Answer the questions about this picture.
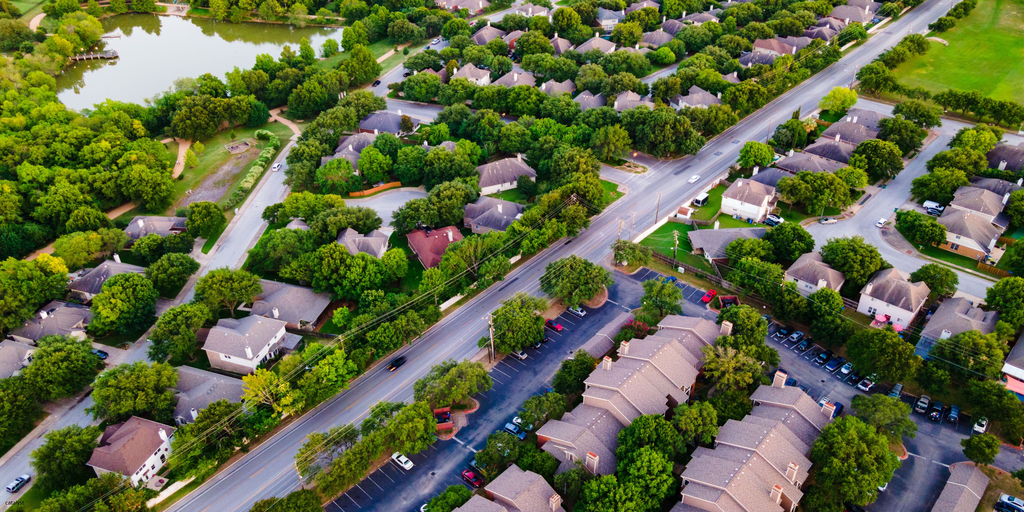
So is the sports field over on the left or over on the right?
right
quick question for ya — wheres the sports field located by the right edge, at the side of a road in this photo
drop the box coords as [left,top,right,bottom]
[863,0,1024,113]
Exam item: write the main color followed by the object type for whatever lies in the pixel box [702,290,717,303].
red vehicle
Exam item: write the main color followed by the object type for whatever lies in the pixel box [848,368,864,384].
black car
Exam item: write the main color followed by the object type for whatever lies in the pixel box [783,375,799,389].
blue car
